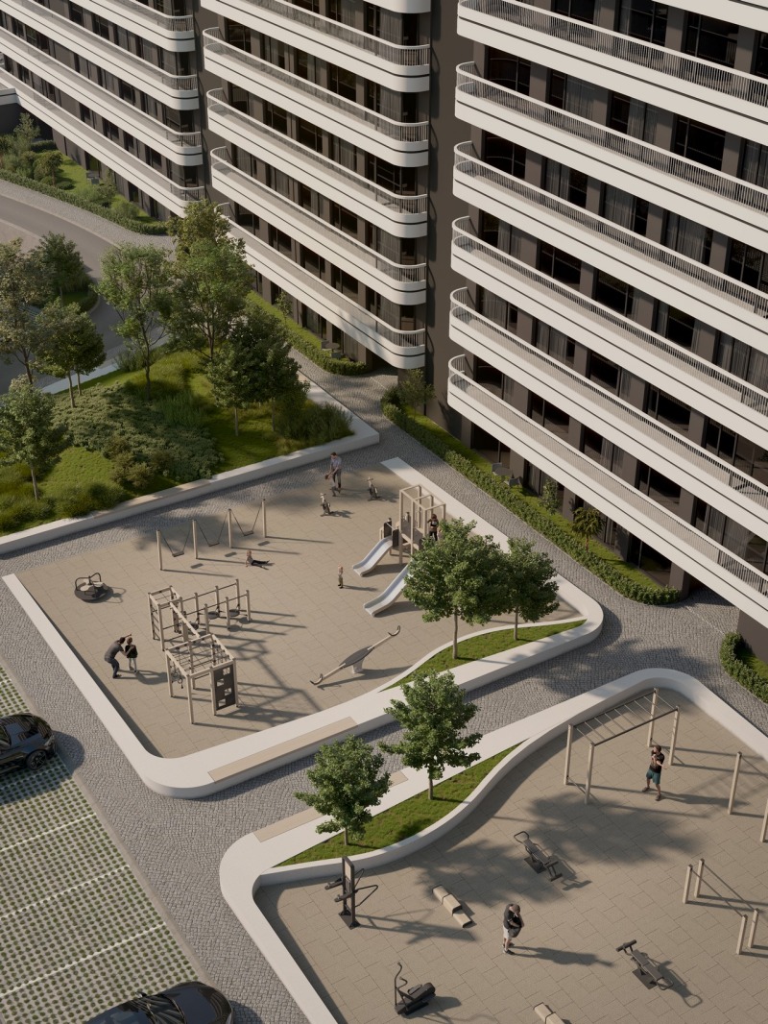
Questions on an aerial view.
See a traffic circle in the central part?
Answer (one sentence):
No, no traffic circle is visible in the central part.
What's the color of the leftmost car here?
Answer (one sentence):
From above, the leftmost car appears black.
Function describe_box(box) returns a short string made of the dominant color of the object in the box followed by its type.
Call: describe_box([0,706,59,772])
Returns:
black car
